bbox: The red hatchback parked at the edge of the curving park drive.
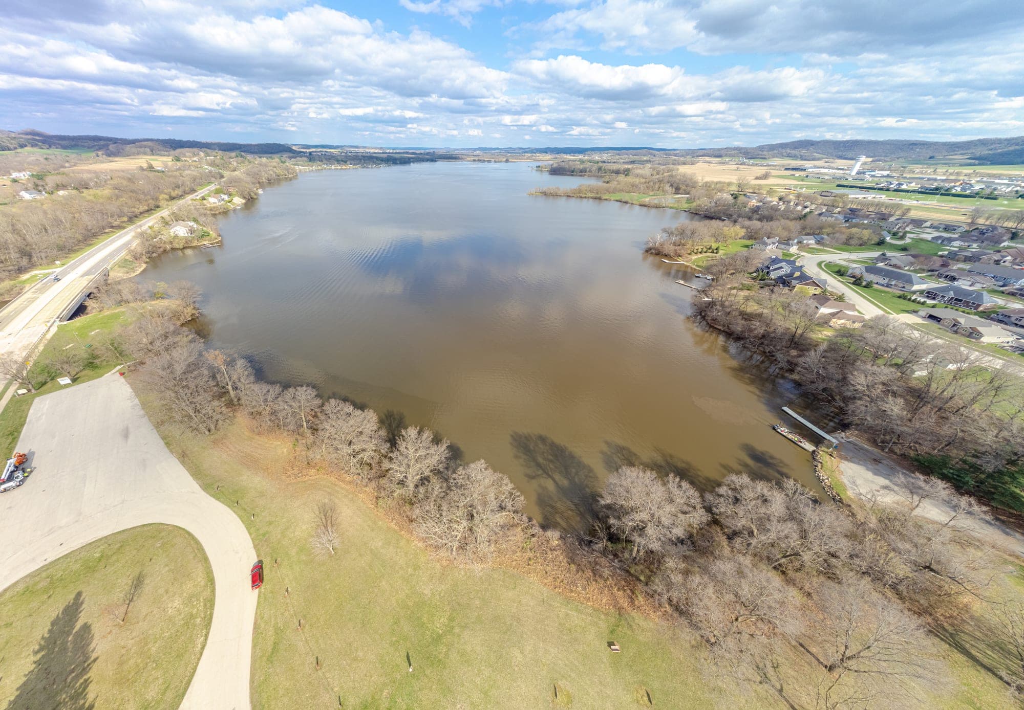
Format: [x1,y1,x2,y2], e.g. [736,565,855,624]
[247,561,265,590]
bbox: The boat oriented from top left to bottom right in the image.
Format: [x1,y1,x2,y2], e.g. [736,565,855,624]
[772,419,815,451]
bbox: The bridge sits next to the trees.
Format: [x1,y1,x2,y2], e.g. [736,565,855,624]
[0,254,132,341]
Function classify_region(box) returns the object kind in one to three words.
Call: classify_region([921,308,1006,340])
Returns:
house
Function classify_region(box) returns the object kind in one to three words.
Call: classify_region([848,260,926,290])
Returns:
house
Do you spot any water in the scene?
Yes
